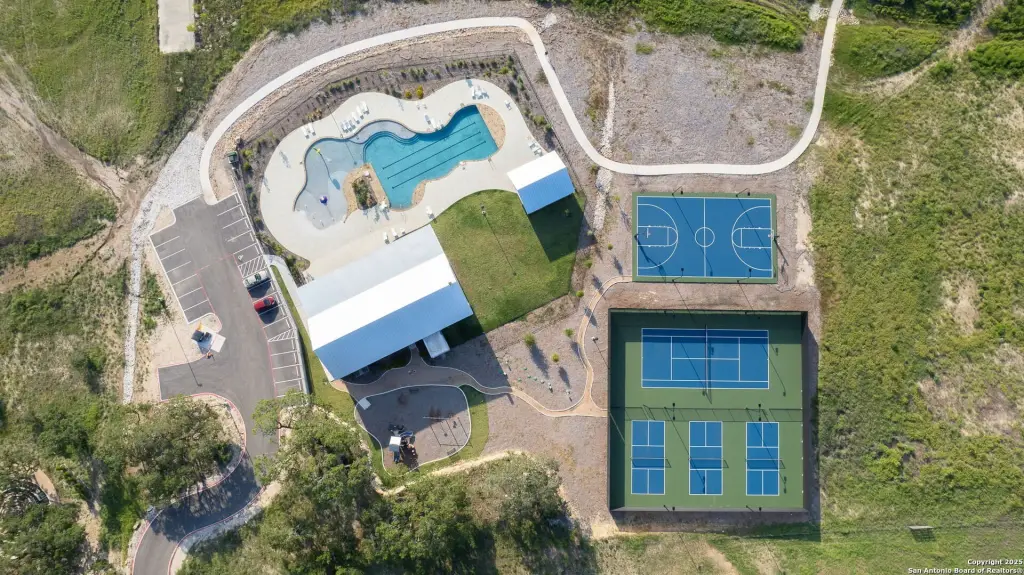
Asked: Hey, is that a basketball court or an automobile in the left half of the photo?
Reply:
automobile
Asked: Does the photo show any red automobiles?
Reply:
Yes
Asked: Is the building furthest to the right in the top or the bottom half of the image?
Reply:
top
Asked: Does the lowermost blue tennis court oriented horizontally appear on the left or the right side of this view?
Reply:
right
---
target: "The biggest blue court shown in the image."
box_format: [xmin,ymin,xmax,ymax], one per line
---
[632,192,777,283]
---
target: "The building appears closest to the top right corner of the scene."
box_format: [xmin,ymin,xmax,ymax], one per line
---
[508,149,574,213]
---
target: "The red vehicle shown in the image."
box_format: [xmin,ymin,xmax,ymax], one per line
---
[250,294,277,312]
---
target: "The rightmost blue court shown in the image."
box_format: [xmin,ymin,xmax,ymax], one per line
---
[746,422,779,496]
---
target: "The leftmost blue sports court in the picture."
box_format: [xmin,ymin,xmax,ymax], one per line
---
[632,421,665,494]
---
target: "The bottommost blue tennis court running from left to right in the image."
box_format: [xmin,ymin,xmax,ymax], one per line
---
[642,329,769,389]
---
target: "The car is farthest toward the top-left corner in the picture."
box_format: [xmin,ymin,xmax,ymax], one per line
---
[240,270,269,289]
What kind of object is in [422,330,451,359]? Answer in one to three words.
building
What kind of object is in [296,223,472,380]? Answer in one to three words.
building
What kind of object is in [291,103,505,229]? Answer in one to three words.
swimming pool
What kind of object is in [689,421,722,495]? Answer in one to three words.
sports court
